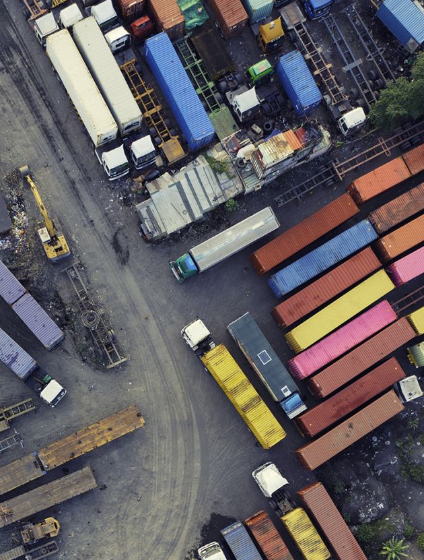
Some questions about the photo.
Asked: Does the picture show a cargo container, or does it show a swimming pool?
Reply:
cargo container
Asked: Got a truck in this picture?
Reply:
Yes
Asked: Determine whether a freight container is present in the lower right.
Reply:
Yes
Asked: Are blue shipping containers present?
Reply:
Yes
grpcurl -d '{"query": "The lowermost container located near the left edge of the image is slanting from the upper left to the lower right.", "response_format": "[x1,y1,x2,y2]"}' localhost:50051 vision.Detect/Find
[0,328,39,382]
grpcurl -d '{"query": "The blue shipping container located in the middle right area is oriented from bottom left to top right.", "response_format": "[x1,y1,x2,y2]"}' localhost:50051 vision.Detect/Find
[265,219,377,301]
